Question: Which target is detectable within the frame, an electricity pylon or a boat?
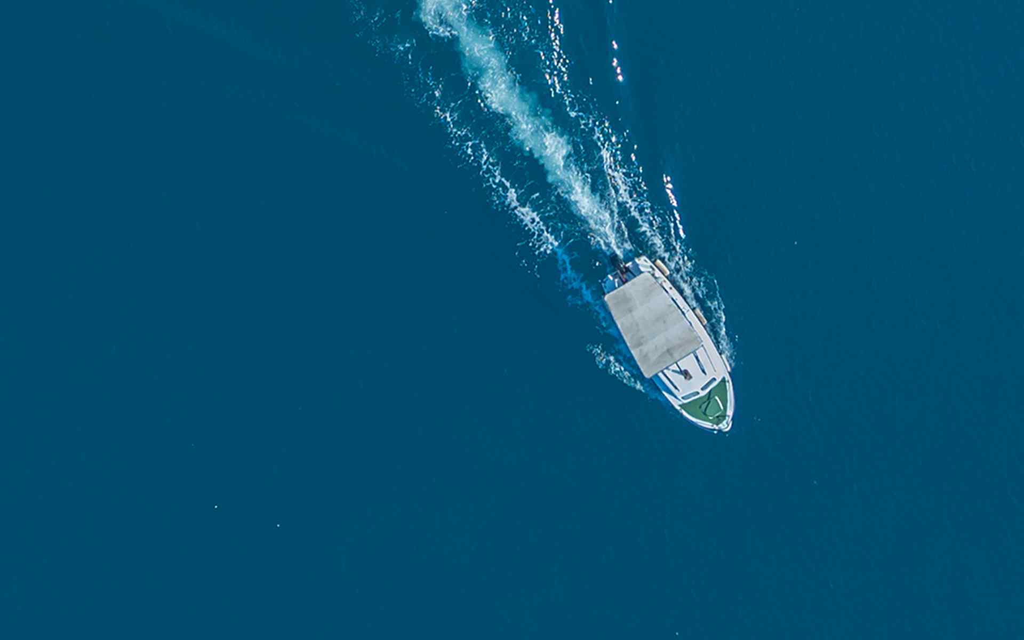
boat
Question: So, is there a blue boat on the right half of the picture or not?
No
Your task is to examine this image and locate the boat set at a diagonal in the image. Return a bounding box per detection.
[602,256,736,433]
